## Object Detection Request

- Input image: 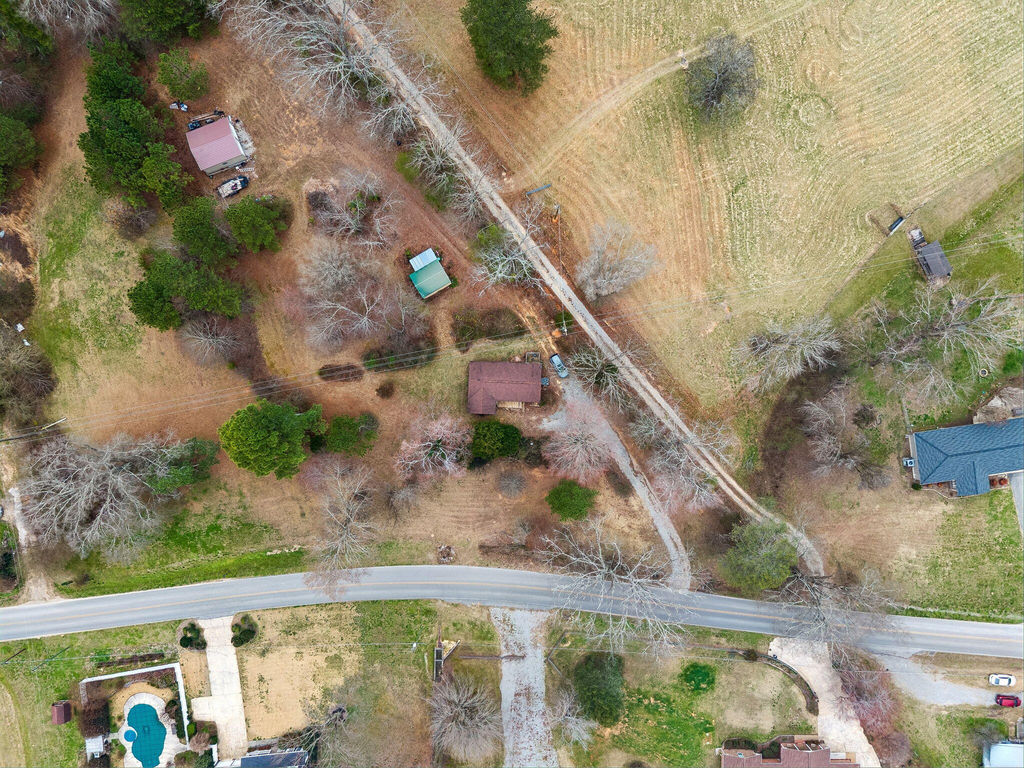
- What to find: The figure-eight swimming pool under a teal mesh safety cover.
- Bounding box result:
[119,692,188,768]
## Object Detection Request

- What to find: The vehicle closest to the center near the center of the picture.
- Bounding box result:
[549,352,568,380]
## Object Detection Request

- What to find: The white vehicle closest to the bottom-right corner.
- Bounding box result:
[988,674,1016,687]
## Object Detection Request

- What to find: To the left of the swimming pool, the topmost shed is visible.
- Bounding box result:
[46,706,72,730]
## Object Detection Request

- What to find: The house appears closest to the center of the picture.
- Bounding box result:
[468,361,542,416]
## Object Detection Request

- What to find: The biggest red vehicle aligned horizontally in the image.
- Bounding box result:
[995,694,1022,708]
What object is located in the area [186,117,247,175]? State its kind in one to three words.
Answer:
shed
